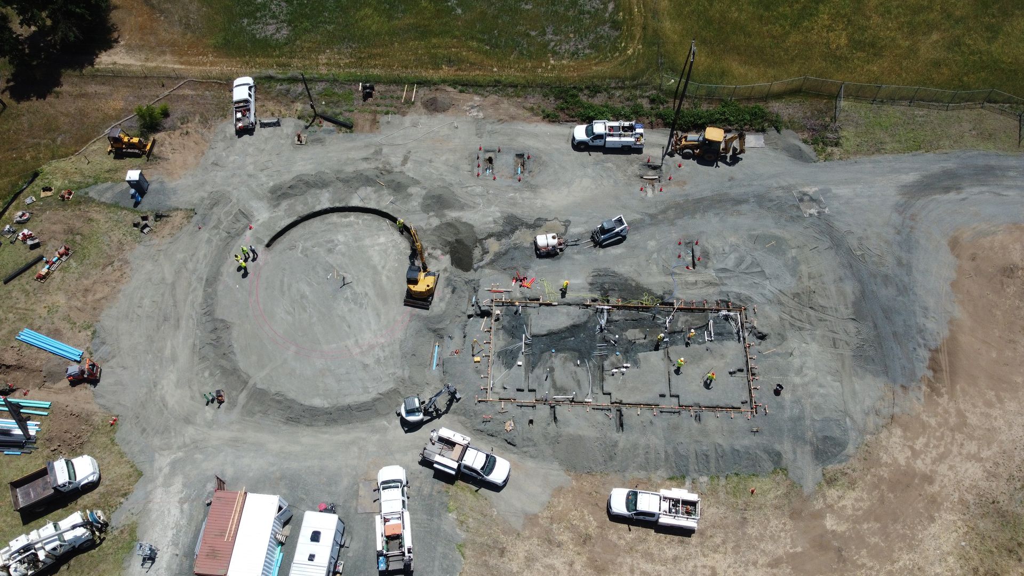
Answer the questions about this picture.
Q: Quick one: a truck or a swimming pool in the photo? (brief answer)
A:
truck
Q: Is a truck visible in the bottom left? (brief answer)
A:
Yes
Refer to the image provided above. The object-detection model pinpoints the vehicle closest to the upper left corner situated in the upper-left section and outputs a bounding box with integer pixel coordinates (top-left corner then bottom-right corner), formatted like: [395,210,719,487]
[104,128,153,161]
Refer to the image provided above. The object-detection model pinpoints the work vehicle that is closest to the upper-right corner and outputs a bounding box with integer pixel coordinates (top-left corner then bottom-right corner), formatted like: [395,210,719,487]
[669,124,744,161]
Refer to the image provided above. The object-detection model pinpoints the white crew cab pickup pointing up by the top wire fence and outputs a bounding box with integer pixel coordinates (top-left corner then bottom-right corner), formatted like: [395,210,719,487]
[229,78,258,132]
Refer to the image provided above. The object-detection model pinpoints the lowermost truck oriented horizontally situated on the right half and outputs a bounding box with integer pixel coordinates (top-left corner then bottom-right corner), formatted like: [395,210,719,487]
[607,484,699,531]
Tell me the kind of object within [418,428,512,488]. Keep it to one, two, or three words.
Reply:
truck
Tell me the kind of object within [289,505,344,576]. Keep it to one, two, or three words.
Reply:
trailer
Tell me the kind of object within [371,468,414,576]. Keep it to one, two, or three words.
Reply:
truck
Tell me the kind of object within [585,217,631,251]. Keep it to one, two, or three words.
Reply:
work vehicle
